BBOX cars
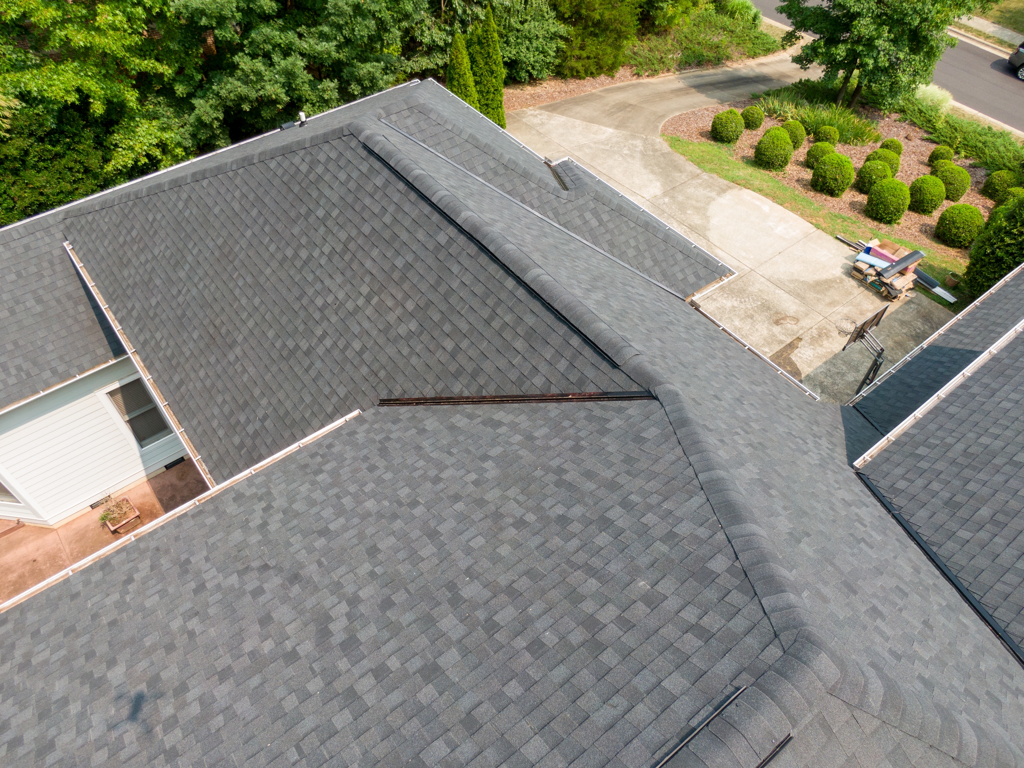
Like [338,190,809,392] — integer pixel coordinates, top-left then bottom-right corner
[1004,40,1024,82]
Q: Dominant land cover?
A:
buildings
